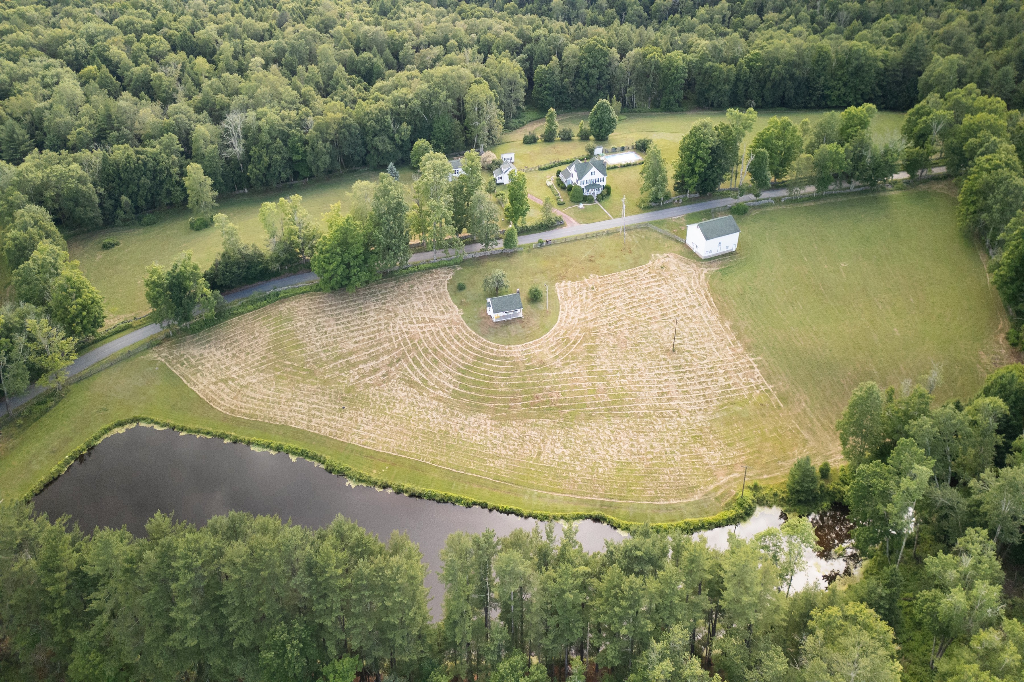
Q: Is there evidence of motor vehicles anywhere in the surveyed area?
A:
No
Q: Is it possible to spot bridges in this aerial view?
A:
No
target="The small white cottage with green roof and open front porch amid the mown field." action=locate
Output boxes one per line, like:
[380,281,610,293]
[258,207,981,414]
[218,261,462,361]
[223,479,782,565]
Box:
[486,289,523,322]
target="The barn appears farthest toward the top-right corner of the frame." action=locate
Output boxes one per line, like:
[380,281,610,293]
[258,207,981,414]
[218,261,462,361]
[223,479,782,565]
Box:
[682,213,742,259]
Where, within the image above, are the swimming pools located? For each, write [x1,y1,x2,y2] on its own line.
[598,152,641,164]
